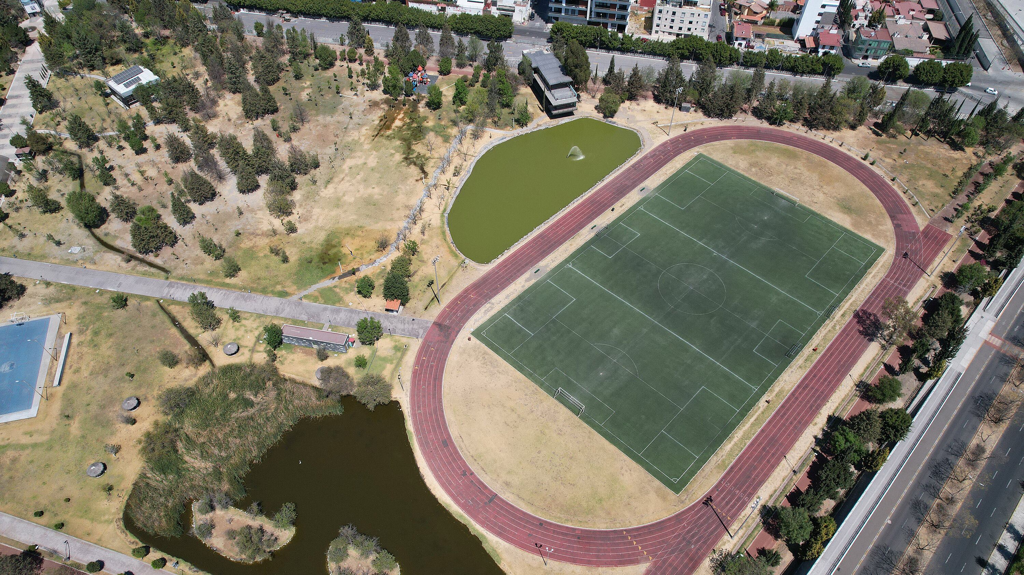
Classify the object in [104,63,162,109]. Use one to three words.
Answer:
building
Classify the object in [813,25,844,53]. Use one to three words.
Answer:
house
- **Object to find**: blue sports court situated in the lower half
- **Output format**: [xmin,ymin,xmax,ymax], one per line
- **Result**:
[0,314,62,424]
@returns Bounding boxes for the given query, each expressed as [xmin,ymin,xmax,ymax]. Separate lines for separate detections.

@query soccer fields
[469,152,887,497]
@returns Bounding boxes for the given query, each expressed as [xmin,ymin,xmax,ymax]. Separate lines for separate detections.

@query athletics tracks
[409,126,954,575]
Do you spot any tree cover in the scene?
Yes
